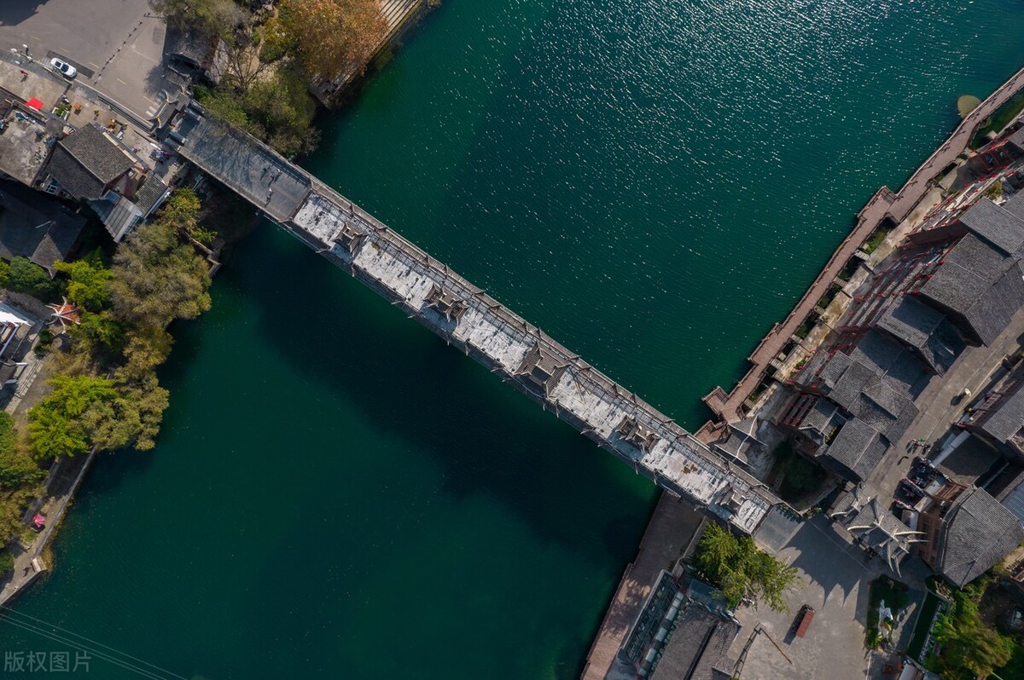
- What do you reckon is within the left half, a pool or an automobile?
automobile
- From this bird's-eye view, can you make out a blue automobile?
No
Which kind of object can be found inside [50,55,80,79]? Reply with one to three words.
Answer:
car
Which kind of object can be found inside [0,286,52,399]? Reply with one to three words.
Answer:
building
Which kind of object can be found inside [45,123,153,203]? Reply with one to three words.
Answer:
house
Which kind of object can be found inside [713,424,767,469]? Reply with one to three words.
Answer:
shed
